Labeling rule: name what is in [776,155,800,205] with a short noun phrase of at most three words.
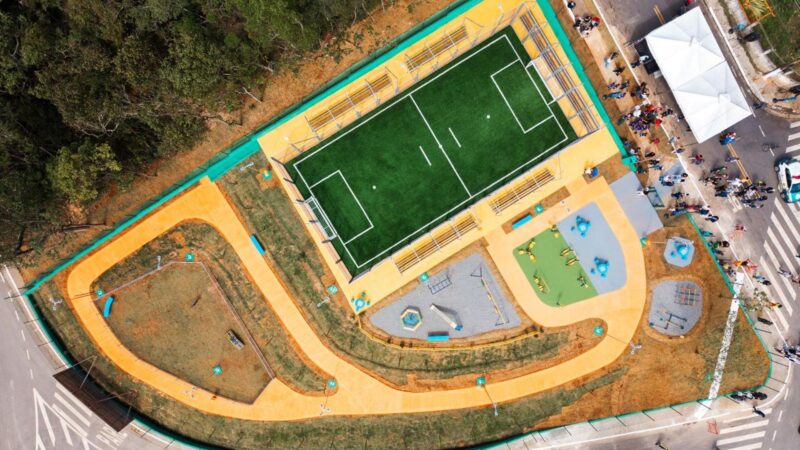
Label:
car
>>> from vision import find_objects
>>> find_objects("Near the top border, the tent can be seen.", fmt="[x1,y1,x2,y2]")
[628,6,752,148]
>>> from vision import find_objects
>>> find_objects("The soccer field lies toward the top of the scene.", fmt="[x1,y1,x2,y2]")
[257,0,620,312]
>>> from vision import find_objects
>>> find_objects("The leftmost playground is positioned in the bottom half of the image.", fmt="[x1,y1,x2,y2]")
[368,251,520,338]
